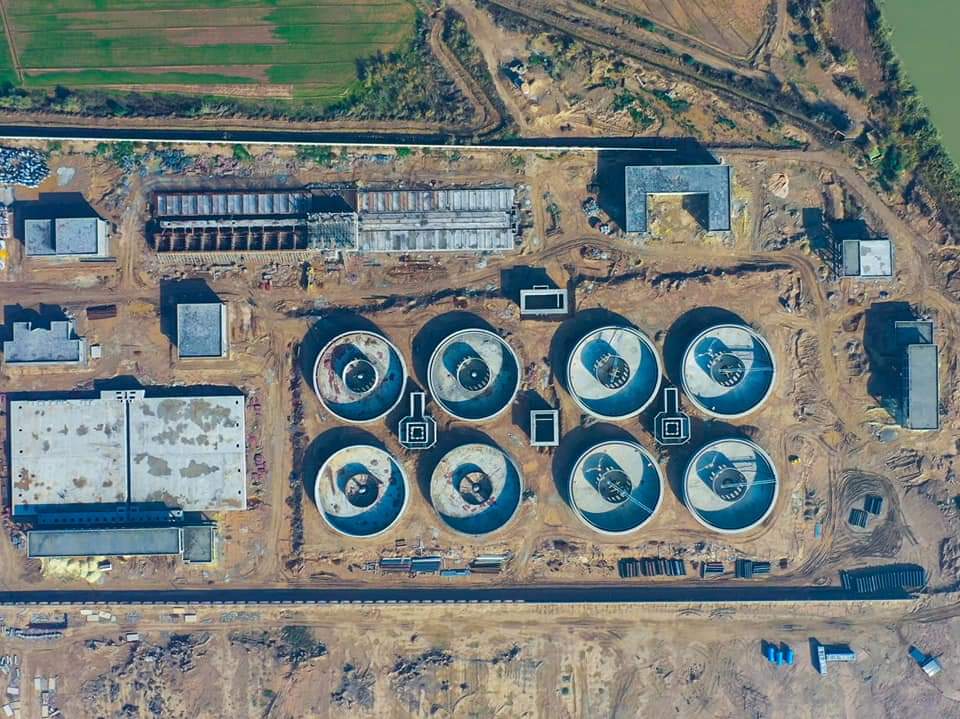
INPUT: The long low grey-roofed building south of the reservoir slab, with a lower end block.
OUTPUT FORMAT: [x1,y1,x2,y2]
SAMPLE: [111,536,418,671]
[28,522,219,562]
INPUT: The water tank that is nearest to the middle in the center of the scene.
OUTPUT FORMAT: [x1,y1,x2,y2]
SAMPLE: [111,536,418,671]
[428,328,520,421]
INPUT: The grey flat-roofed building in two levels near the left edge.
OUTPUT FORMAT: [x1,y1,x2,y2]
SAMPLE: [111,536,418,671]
[22,217,110,259]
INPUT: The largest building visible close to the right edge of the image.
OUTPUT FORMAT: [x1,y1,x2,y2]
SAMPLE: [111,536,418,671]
[888,321,938,429]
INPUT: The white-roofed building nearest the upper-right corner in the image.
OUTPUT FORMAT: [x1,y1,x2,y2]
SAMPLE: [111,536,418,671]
[849,239,892,281]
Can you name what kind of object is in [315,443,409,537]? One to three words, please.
water tank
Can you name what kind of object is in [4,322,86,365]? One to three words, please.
building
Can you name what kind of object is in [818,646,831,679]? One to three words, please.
building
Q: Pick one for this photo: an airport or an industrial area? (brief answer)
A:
industrial area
